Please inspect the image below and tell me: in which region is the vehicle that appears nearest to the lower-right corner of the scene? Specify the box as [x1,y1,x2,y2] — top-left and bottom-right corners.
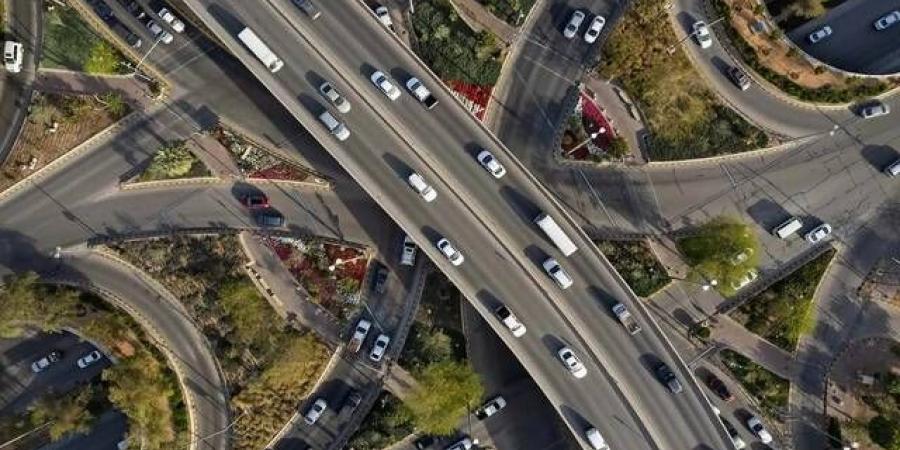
[745,416,769,442]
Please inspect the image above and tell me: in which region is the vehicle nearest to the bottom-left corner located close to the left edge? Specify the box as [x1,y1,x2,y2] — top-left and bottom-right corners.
[33,351,62,371]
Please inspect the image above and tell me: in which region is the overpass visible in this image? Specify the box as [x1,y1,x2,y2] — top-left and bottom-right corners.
[175,0,742,450]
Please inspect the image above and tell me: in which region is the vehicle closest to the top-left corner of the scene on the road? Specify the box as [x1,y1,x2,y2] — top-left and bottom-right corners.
[4,42,22,71]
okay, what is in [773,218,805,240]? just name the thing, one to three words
vehicle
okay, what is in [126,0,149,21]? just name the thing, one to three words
car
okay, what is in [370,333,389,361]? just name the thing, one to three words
car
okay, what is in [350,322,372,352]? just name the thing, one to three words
truck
